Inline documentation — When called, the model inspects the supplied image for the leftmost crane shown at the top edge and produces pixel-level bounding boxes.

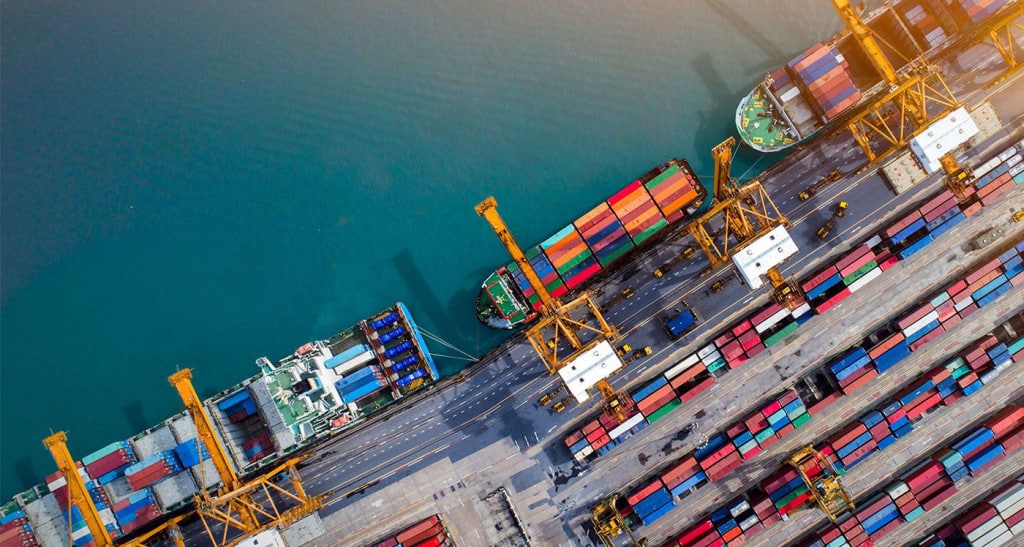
[815,0,984,201]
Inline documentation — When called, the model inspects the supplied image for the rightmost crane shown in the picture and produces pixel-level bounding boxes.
[949,9,1024,94]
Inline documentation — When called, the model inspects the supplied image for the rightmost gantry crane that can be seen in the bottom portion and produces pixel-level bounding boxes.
[777,439,856,521]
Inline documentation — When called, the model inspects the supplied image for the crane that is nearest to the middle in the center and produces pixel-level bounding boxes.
[474,190,632,419]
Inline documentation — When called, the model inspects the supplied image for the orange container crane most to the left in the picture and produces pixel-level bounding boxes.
[38,426,220,547]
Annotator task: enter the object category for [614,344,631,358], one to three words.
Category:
work vehicle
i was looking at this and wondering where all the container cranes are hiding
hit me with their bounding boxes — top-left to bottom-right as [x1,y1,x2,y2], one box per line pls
[777,439,856,521]
[474,190,632,419]
[38,426,220,547]
[949,9,1024,94]
[667,129,803,309]
[815,0,984,201]
[165,364,333,547]
[579,485,645,547]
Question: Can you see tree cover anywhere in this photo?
No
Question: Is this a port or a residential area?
port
